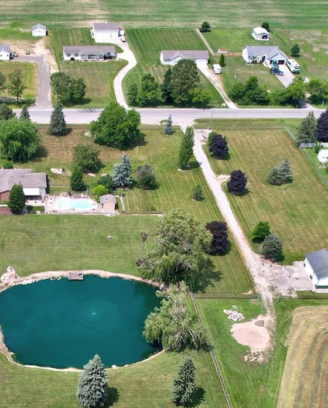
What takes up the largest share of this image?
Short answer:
grass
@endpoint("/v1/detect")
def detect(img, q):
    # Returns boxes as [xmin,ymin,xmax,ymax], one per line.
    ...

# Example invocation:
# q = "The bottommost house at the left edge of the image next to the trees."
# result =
[0,169,48,202]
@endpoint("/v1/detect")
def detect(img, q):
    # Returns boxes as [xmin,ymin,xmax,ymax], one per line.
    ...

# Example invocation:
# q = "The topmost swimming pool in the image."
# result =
[43,195,103,211]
